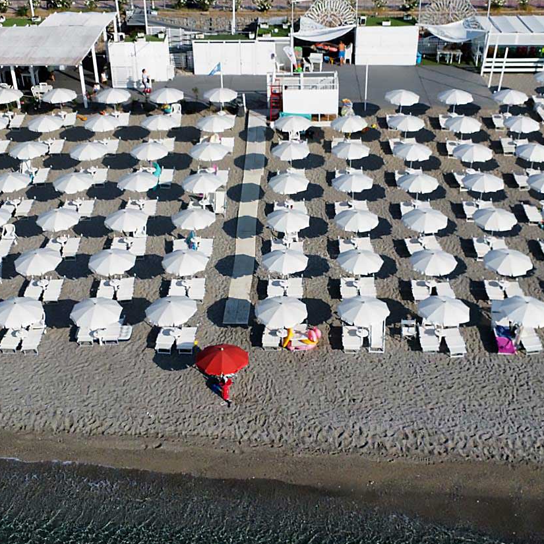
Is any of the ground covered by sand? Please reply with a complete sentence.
Yes, sand shows up in the scene.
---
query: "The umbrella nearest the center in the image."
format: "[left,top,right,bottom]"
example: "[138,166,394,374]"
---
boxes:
[261,248,310,286]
